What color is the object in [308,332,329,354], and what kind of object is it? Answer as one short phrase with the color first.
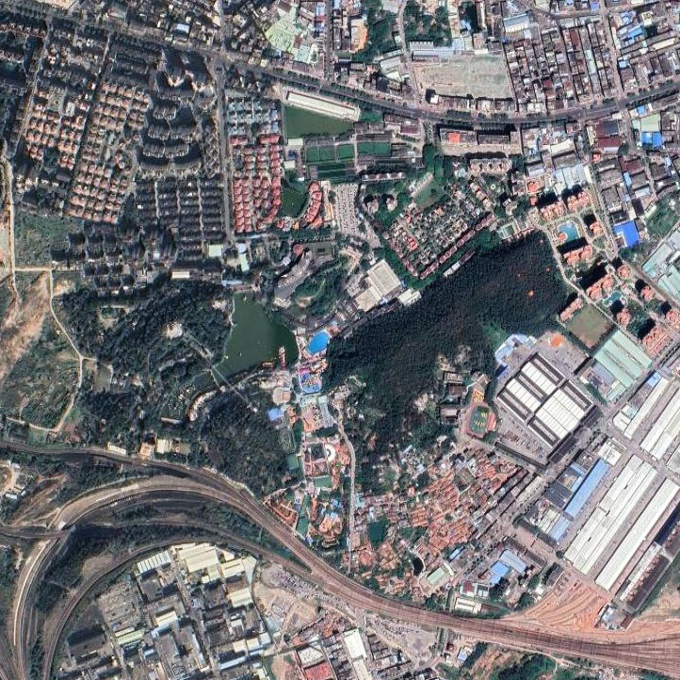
blue swimming pool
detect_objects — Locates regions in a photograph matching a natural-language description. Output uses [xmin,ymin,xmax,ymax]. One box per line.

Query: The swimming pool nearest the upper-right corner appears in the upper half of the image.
[559,221,579,242]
